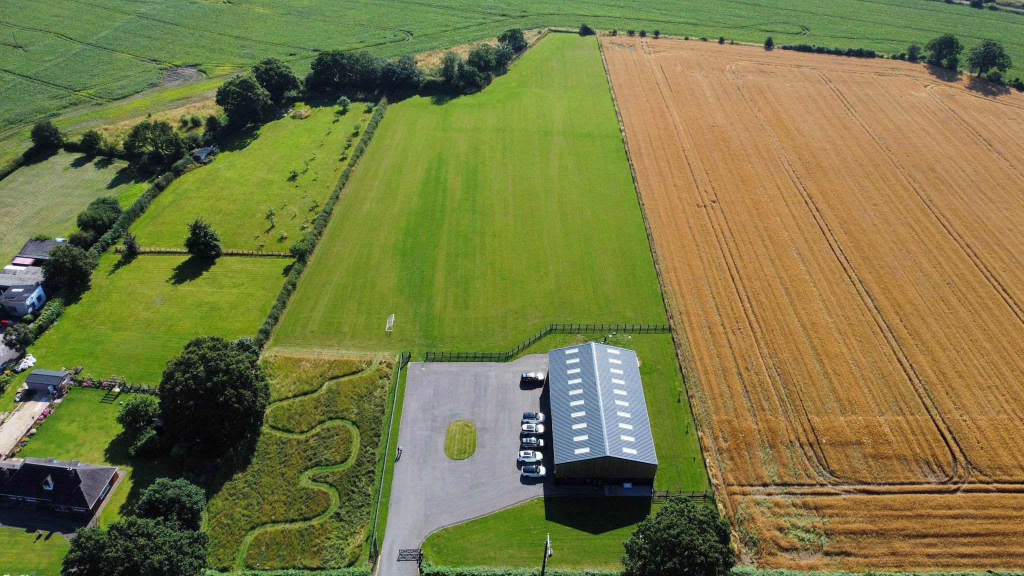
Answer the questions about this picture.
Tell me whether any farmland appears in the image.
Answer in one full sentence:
Yes, there's farmland in this view.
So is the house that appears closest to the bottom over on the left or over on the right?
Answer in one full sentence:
It is on the left.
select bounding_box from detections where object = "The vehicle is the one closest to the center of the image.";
[521,373,544,385]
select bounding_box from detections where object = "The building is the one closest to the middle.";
[548,345,658,482]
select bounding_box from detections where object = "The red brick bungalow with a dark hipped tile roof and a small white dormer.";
[0,454,119,516]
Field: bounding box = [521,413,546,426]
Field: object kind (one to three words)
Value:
vehicle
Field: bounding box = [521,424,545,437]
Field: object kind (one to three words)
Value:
vehicle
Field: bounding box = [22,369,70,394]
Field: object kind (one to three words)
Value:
shed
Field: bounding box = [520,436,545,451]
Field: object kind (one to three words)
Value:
car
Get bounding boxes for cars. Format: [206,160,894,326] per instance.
[520,465,547,479]
[520,436,545,451]
[521,424,545,437]
[0,320,15,329]
[521,413,546,426]
[521,373,544,385]
[518,451,542,464]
